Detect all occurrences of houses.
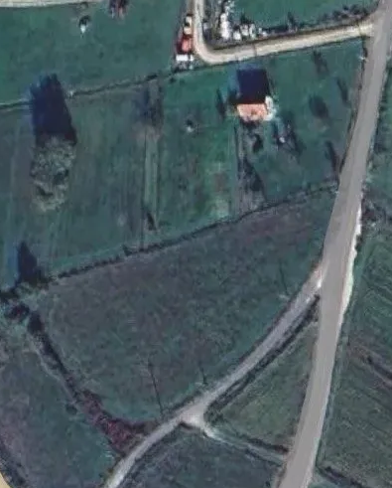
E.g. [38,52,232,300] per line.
[238,99,277,125]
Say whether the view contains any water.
No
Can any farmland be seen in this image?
Yes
